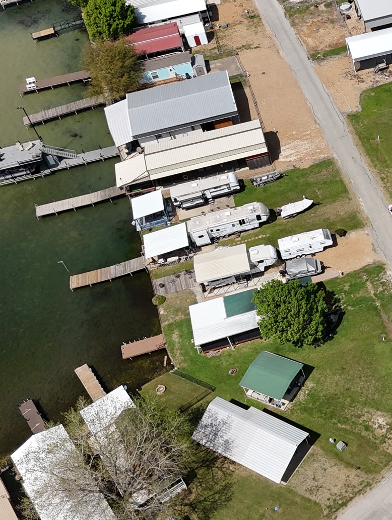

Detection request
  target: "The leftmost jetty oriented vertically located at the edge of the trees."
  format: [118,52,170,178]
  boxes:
[21,397,43,438]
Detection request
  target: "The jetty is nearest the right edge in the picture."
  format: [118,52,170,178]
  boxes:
[122,333,165,362]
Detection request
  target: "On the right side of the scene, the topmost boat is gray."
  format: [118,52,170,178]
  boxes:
[250,172,279,185]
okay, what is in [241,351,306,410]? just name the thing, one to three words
building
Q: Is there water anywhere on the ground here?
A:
Yes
